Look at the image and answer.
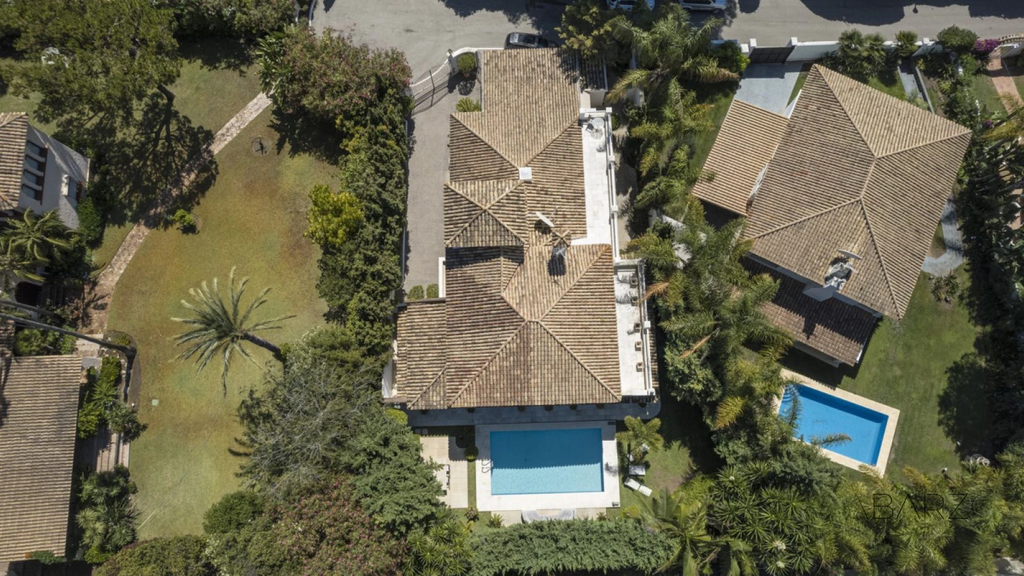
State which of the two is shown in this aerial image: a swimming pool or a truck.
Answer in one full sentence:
I can see a swimming pool in this picture.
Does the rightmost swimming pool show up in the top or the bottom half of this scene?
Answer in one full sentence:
Seen from above, the rightmost swimming pool lies in the bottom half of the view.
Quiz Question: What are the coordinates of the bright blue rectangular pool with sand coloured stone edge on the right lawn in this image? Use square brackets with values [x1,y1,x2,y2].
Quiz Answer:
[765,369,899,476]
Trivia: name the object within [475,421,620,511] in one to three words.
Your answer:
swimming pool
